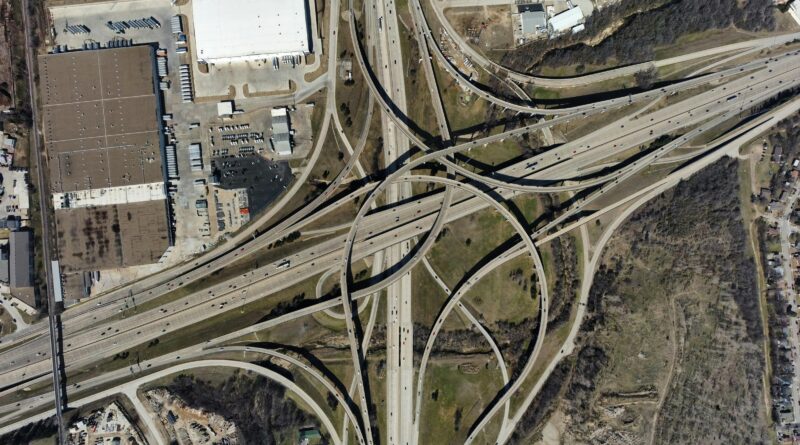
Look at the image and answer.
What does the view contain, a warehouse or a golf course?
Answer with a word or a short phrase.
warehouse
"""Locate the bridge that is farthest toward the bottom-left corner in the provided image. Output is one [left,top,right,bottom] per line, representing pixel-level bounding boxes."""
[48,315,63,418]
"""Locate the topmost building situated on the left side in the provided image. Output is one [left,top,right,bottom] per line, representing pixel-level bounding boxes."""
[193,0,312,65]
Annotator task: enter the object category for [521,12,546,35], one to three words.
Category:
building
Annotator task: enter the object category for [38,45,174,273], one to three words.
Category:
warehouse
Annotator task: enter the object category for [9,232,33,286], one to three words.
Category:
building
